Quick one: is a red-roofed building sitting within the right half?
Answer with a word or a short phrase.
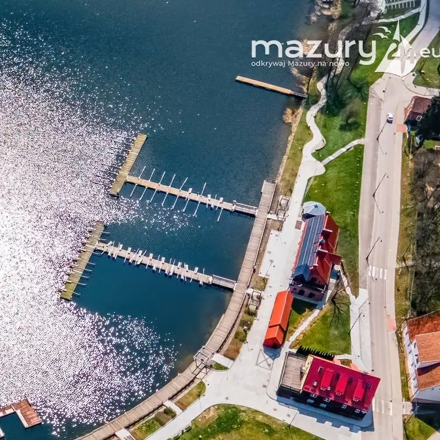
Yes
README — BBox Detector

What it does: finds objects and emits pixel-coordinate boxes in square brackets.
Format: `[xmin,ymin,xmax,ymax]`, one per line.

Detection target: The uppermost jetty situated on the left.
[92,134,257,223]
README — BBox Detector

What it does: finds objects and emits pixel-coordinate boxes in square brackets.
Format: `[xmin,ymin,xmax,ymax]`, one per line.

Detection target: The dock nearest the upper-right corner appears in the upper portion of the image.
[236,77,308,98]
